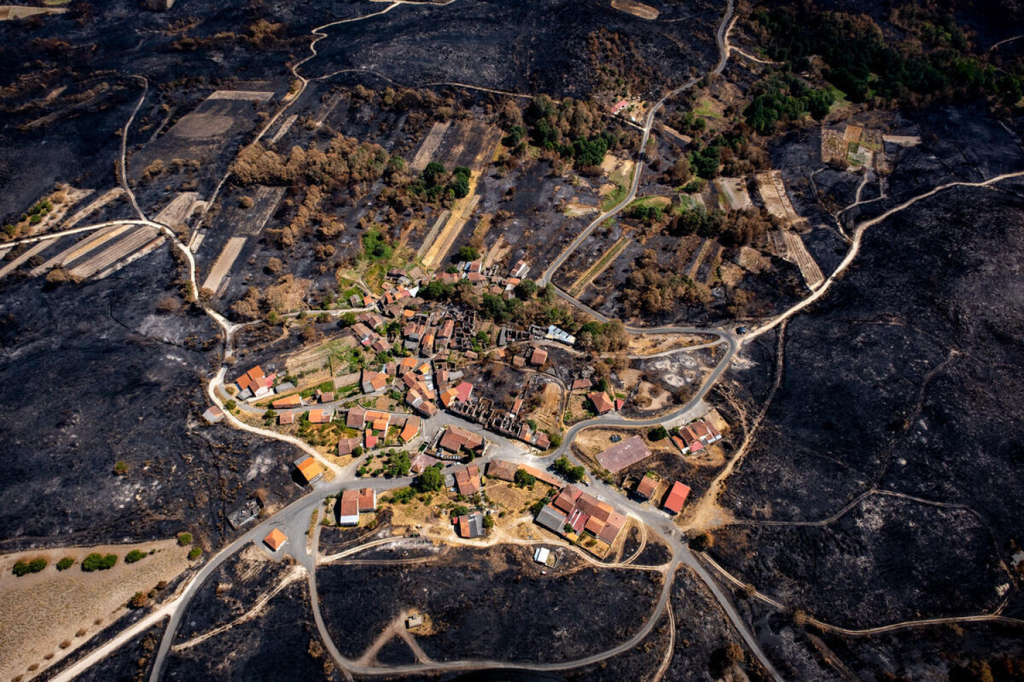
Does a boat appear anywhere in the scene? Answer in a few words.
No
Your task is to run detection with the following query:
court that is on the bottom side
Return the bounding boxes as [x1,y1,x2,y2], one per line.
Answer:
[595,435,652,474]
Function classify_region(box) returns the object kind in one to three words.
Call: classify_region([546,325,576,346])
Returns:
shed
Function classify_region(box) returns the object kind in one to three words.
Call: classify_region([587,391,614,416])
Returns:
house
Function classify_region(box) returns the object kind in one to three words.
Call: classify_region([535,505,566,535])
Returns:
barn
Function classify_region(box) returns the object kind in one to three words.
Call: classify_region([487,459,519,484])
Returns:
building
